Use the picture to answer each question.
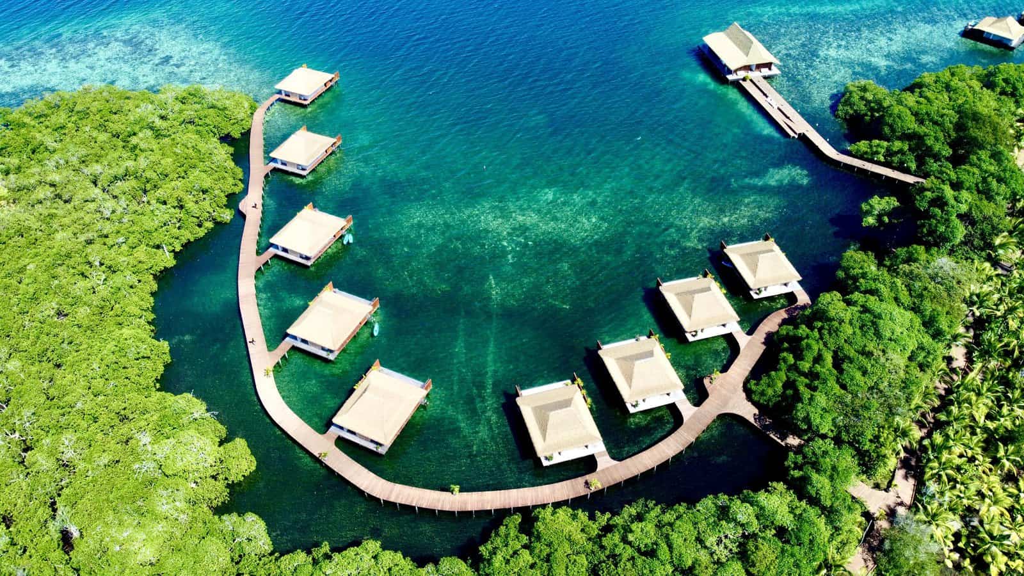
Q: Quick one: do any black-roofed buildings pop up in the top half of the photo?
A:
No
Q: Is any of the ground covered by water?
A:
Yes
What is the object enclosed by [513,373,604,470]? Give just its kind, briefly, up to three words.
house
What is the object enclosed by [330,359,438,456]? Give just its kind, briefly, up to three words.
house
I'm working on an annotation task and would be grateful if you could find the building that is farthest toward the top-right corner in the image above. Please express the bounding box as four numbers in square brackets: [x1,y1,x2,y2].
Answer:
[963,15,1024,52]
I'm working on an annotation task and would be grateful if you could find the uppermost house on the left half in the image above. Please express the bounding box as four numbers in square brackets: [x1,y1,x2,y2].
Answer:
[276,65,342,108]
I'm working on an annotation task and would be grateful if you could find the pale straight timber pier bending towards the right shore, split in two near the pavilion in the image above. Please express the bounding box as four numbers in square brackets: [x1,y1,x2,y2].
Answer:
[740,75,925,190]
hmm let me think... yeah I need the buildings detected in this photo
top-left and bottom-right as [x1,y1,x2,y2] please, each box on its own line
[276,65,342,108]
[719,236,801,304]
[270,126,346,178]
[596,330,685,417]
[330,359,438,456]
[286,283,384,363]
[963,15,1024,52]
[655,271,740,346]
[701,23,782,85]
[269,203,357,269]
[513,373,604,470]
